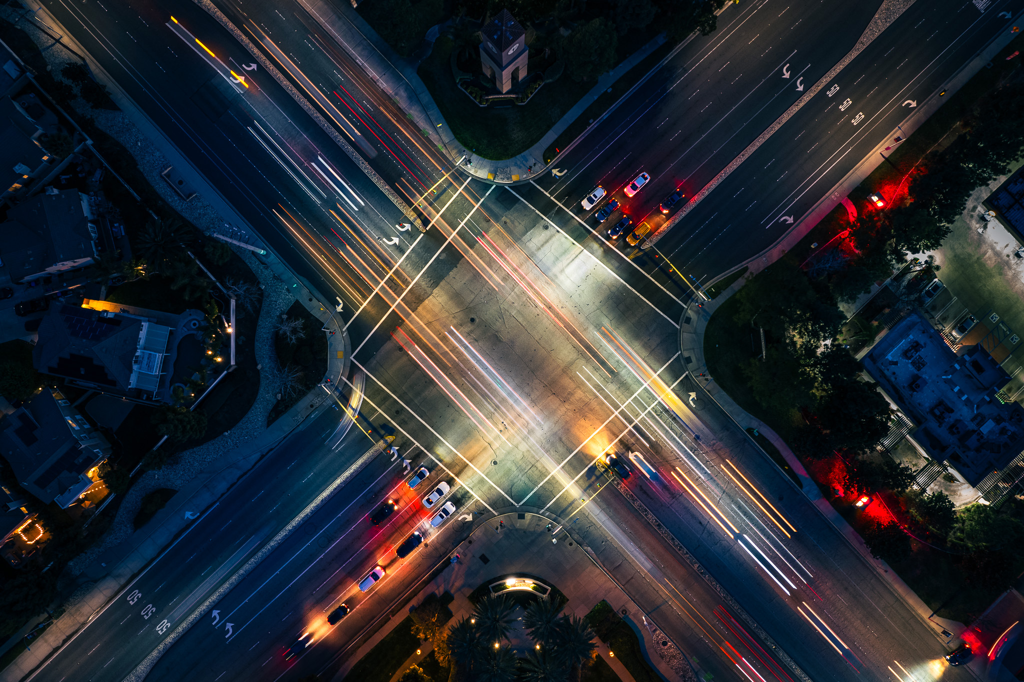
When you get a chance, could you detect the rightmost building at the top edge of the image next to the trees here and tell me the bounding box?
[479,4,527,77]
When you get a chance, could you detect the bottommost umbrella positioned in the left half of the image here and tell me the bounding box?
[81,498,98,515]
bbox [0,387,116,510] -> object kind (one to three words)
house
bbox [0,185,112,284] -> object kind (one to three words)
house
